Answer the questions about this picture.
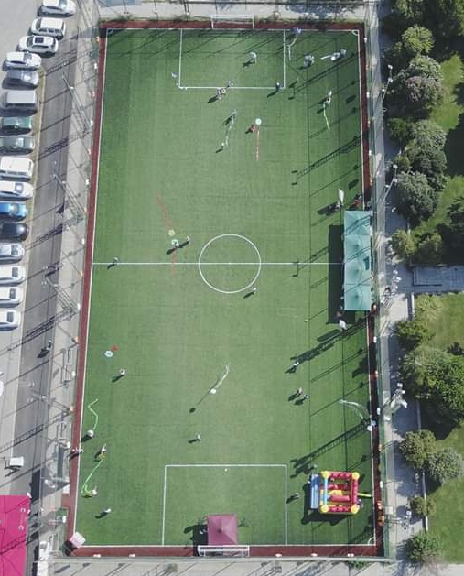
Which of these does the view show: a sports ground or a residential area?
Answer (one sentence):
It's a sports ground.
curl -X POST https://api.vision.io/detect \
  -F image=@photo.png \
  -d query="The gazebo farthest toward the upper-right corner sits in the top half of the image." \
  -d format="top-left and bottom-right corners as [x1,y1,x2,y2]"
[342,211,371,241]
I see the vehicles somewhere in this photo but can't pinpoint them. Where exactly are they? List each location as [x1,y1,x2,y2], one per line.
[0,157,34,178]
[0,288,23,306]
[3,51,41,69]
[0,91,38,111]
[18,34,57,55]
[0,220,28,240]
[0,133,35,154]
[32,18,65,37]
[41,0,75,17]
[0,244,23,262]
[0,310,20,330]
[0,116,32,134]
[2,68,39,88]
[0,201,28,221]
[0,181,34,199]
[0,267,25,285]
